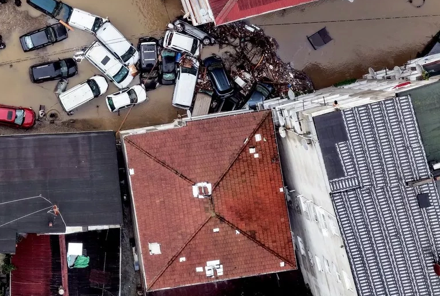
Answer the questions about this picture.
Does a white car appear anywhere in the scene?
Yes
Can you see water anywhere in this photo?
Yes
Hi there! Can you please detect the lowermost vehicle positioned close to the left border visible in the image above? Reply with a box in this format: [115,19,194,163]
[0,102,36,131]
